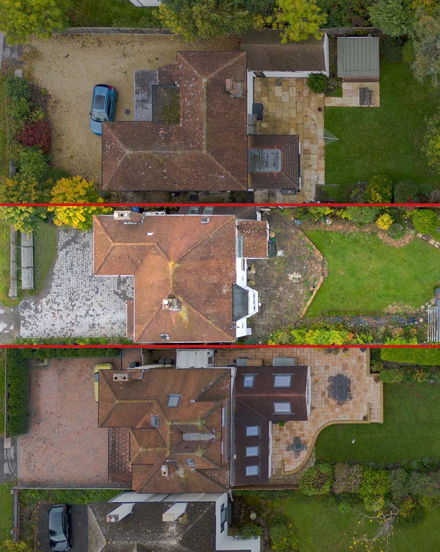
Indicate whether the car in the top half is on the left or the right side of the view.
left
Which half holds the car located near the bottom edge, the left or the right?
left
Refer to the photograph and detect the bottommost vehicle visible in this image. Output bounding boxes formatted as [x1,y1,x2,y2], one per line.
[45,503,73,552]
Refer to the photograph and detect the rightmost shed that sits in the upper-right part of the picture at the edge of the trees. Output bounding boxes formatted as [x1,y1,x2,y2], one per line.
[338,37,380,82]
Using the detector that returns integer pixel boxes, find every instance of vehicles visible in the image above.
[90,365,113,412]
[87,83,118,136]
[45,503,73,552]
